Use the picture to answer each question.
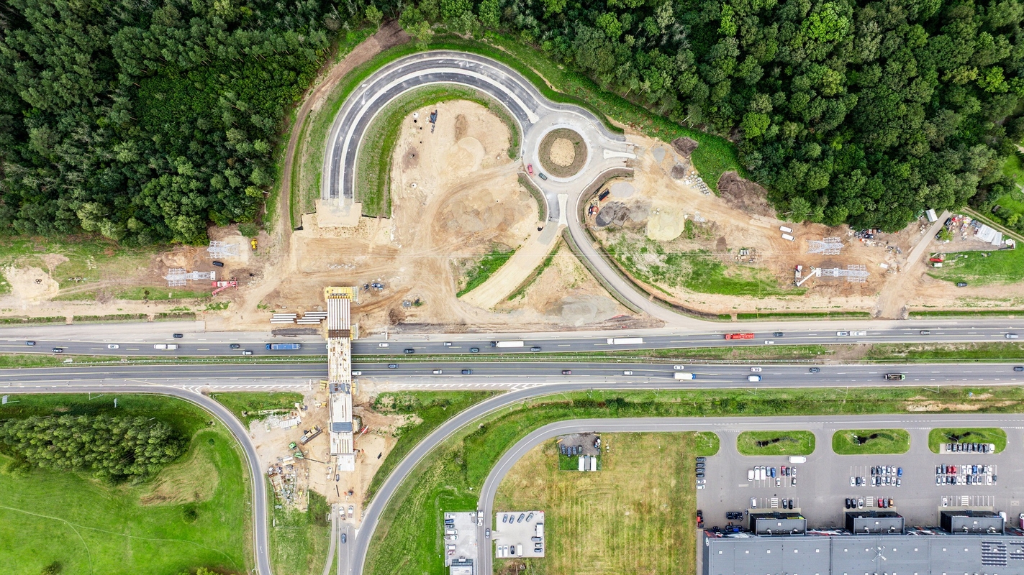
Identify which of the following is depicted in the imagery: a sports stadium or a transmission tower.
transmission tower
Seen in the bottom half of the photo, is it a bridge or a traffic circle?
bridge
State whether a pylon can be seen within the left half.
Yes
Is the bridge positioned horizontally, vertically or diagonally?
vertically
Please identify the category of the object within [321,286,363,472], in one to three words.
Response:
bridge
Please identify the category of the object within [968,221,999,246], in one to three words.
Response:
building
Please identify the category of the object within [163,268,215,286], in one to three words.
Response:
pylon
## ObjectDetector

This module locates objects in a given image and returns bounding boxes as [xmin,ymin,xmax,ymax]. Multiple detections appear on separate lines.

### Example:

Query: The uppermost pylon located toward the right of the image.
[806,236,845,255]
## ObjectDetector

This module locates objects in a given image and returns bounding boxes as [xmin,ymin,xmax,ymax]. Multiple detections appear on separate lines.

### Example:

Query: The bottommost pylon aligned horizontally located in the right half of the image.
[817,265,870,283]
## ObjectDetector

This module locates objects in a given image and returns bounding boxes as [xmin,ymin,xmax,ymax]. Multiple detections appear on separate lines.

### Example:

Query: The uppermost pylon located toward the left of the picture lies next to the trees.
[204,239,238,258]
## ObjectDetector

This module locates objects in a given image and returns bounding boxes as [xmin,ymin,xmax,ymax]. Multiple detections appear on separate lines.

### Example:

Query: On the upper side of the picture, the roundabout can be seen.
[513,99,636,224]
